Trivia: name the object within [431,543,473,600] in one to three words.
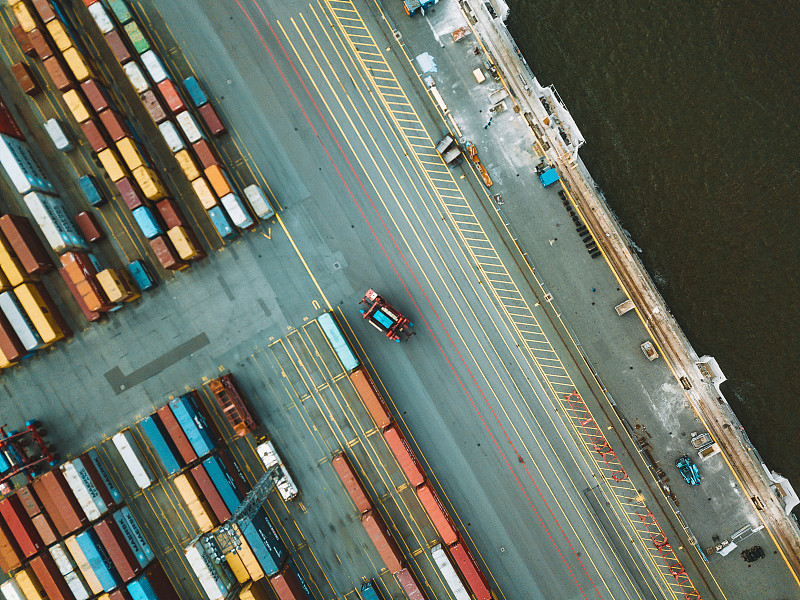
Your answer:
shipping container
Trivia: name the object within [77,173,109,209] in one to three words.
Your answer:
shipping container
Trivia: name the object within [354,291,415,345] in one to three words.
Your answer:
work vehicle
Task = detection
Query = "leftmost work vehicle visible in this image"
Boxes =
[0,421,59,492]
